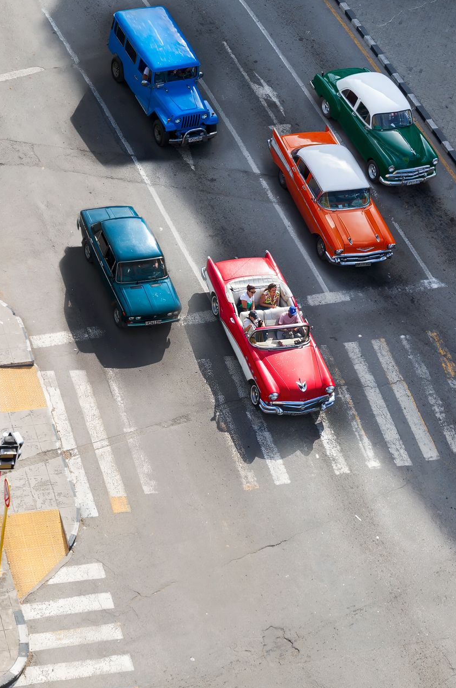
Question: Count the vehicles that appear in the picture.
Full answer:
In total, there are 5 vehicles in the scene.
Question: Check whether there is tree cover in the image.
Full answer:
No, no tree cover is visible.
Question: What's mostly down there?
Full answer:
Most of the picture is covered by paved ground.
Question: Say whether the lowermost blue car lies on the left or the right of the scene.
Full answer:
The lowermost blue car appears in the left half of the scene.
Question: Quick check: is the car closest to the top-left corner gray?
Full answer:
No, from above the car closest to the top-left corner looks blue.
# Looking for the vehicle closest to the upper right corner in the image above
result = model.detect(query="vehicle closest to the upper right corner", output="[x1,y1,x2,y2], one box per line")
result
[313,73,441,188]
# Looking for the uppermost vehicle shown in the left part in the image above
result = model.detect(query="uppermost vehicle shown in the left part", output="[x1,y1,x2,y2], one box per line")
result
[109,8,224,146]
